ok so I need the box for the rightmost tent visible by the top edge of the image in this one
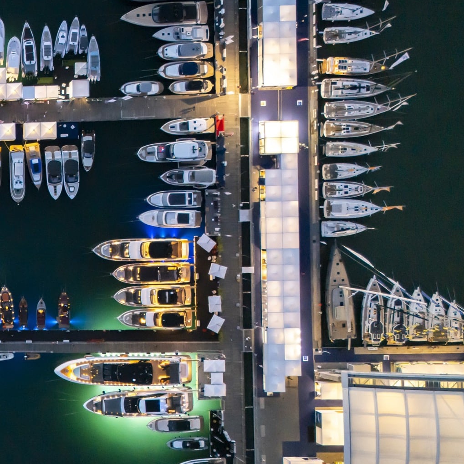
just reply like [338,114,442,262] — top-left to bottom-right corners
[256,0,297,89]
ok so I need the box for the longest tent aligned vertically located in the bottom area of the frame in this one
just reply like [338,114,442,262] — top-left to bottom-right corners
[258,201,301,393]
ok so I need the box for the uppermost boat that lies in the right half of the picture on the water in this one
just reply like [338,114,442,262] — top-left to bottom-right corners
[319,0,381,21]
